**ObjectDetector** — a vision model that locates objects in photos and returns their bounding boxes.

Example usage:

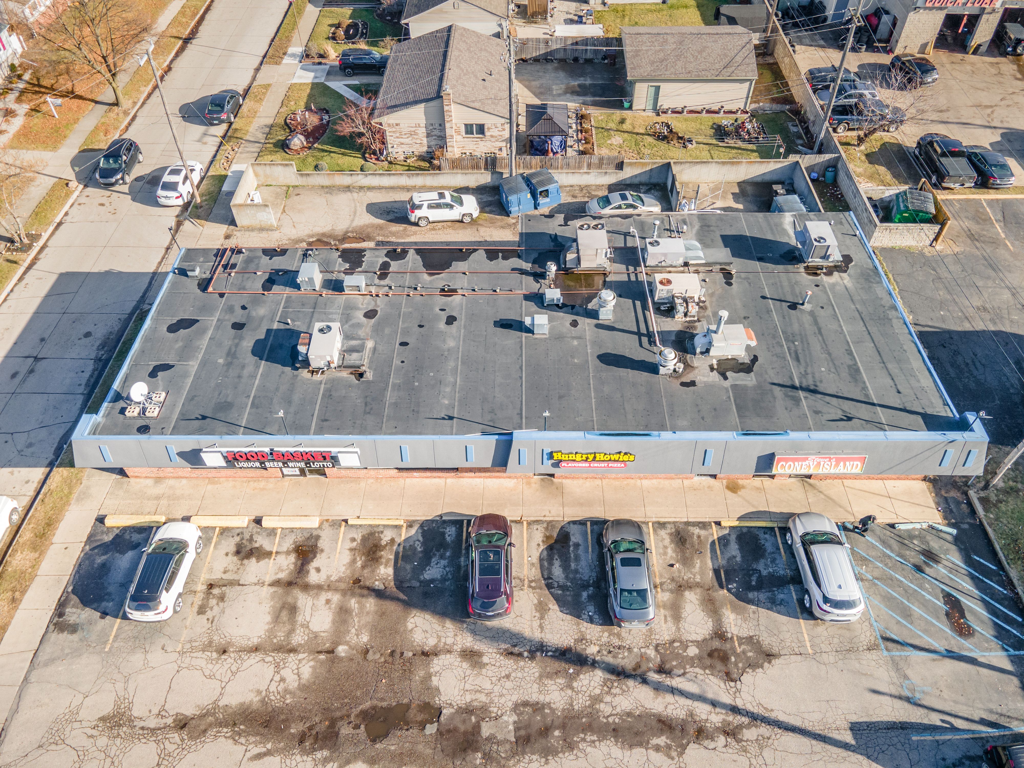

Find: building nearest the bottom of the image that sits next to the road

[70,214,990,478]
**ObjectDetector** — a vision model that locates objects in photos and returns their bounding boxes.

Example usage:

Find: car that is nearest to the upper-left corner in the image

[98,135,142,183]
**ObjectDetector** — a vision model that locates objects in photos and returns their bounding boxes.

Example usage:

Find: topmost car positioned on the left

[339,49,389,76]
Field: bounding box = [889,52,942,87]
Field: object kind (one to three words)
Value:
car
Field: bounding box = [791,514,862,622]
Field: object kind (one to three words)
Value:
car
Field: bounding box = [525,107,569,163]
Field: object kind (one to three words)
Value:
gazebo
